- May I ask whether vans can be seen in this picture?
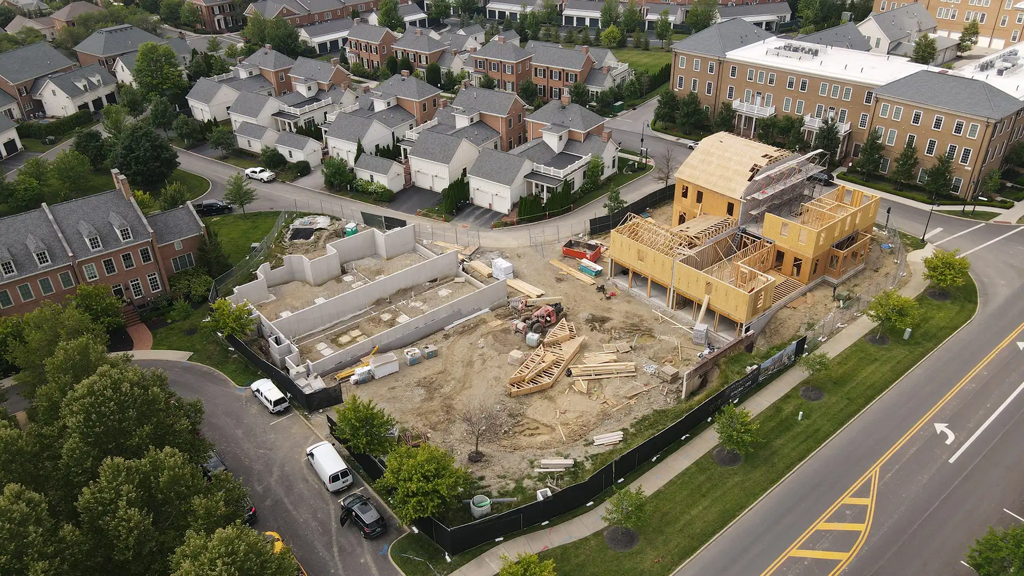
Yes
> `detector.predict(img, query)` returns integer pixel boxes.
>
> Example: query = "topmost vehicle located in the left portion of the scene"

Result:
[245,163,280,182]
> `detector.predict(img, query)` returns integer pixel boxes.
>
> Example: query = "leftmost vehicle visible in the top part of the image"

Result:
[191,194,238,213]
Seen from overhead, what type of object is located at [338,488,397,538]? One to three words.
car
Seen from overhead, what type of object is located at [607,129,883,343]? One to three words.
house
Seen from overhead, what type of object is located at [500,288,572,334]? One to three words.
work vehicle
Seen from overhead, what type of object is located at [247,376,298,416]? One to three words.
truck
